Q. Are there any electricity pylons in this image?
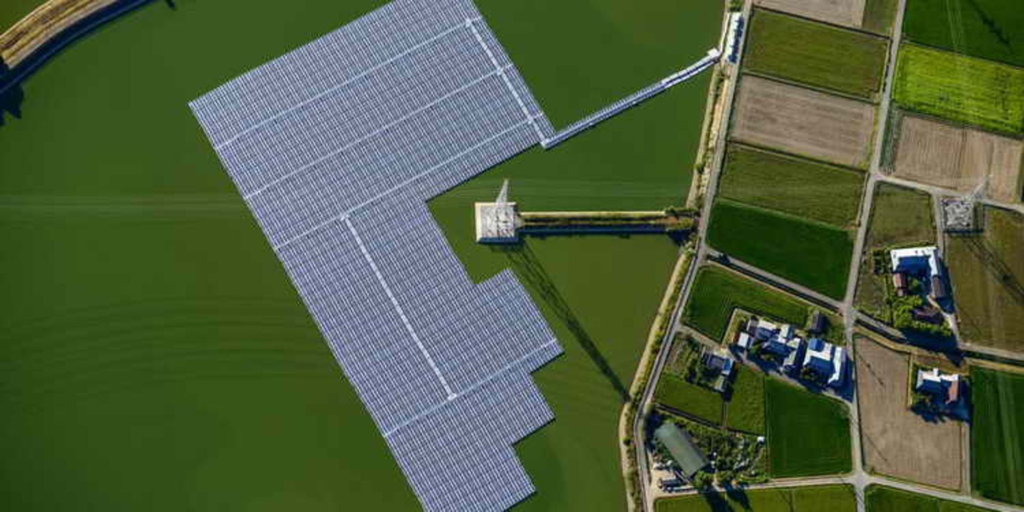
Yes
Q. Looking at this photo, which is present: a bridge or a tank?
bridge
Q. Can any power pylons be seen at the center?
Yes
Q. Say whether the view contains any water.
Yes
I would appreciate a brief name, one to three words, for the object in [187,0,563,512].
solar array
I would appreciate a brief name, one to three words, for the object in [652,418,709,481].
shed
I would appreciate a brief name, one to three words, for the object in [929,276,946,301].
barn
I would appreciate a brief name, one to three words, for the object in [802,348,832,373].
house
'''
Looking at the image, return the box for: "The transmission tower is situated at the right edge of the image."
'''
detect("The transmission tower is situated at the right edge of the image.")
[941,178,993,232]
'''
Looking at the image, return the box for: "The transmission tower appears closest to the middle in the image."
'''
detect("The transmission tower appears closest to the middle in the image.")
[479,179,516,239]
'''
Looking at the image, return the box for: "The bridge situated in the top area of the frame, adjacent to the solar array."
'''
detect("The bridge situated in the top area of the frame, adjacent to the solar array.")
[545,49,719,146]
